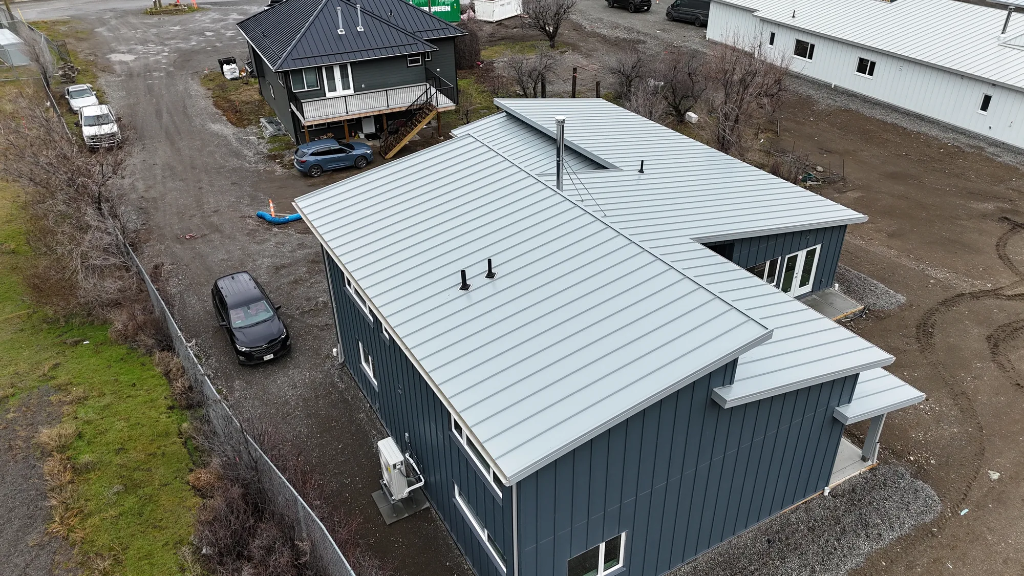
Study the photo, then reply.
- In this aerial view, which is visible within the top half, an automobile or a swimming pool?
automobile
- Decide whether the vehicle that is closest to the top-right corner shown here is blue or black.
black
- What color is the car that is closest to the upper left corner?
white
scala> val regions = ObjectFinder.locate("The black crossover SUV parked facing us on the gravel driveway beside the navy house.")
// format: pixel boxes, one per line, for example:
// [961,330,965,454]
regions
[210,270,286,360]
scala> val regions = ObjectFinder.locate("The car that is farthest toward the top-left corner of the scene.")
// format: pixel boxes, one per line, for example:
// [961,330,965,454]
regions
[65,85,100,116]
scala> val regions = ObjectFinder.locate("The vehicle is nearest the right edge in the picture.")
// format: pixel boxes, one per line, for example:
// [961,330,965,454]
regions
[659,0,710,24]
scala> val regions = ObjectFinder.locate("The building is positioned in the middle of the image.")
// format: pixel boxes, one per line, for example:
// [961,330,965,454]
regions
[292,97,928,576]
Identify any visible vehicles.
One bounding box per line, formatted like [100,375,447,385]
[210,270,286,360]
[65,85,100,116]
[604,0,650,11]
[288,136,376,177]
[659,0,710,24]
[74,102,124,150]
